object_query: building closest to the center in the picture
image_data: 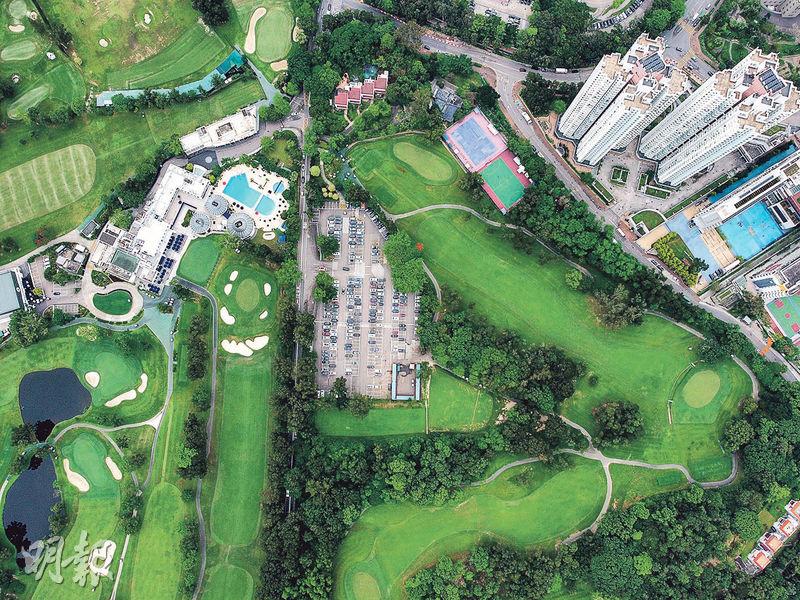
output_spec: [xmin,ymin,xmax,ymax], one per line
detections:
[391,363,420,400]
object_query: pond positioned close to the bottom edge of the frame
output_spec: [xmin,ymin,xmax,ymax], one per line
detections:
[3,445,57,570]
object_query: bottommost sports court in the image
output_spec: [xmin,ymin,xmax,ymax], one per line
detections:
[768,289,800,339]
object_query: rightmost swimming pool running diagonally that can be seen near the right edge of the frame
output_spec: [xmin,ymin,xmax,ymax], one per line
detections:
[705,140,800,205]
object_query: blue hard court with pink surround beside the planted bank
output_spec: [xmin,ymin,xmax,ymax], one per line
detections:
[443,106,509,173]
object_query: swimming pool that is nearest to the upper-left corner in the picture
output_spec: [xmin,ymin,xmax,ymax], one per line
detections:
[222,172,262,209]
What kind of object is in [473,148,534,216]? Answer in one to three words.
tennis court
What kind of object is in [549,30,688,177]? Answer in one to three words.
building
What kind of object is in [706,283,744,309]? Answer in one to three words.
house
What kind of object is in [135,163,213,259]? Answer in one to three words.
building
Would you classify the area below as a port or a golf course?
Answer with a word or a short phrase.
golf course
